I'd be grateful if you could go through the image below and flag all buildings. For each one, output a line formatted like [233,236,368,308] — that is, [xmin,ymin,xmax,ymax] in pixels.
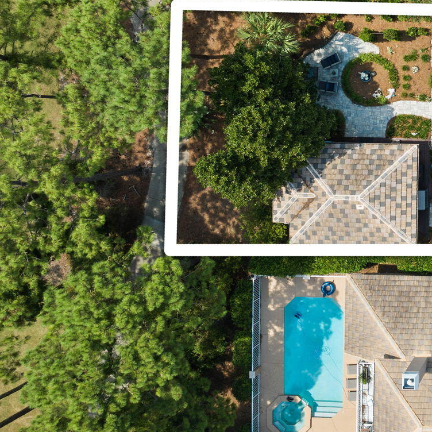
[272,142,421,250]
[341,271,432,432]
